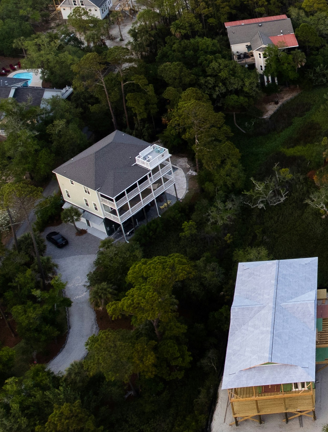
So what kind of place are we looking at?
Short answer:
residential area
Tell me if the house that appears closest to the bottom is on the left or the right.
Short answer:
right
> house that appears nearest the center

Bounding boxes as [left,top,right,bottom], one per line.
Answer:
[53,131,181,236]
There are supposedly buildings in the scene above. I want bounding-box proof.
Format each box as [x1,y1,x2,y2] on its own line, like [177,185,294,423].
[44,0,144,34]
[225,13,298,86]
[0,77,94,150]
[53,131,181,236]
[222,257,328,430]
